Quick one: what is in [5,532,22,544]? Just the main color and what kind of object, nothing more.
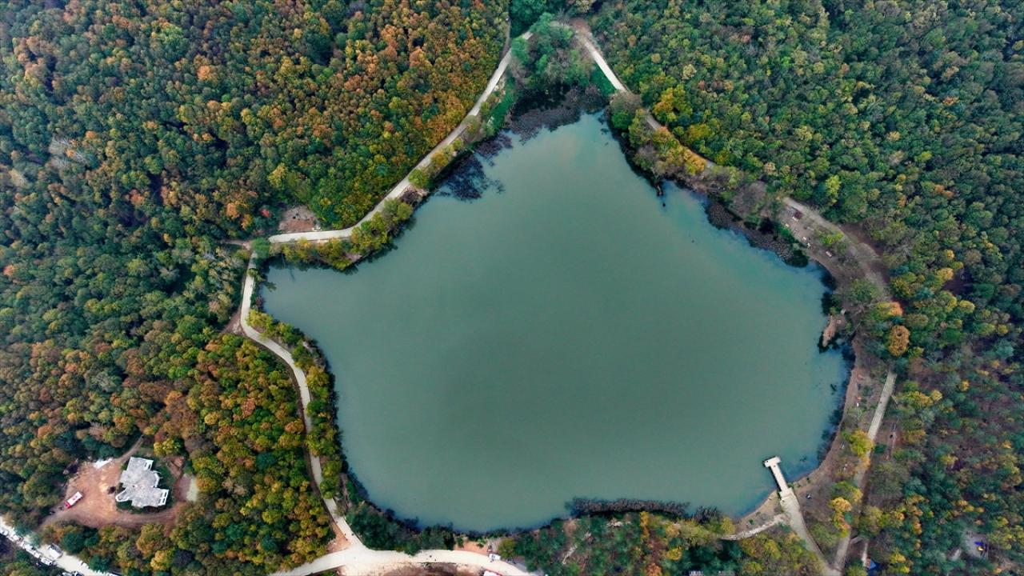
white vehicle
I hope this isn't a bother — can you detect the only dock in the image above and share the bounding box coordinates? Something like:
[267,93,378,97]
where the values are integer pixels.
[764,457,794,500]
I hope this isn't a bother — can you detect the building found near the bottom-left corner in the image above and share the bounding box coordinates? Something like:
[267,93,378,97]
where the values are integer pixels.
[115,457,170,508]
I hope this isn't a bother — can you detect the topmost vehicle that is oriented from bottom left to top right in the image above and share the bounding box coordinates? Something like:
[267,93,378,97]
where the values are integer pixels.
[62,490,85,509]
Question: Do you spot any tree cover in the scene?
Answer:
Yes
